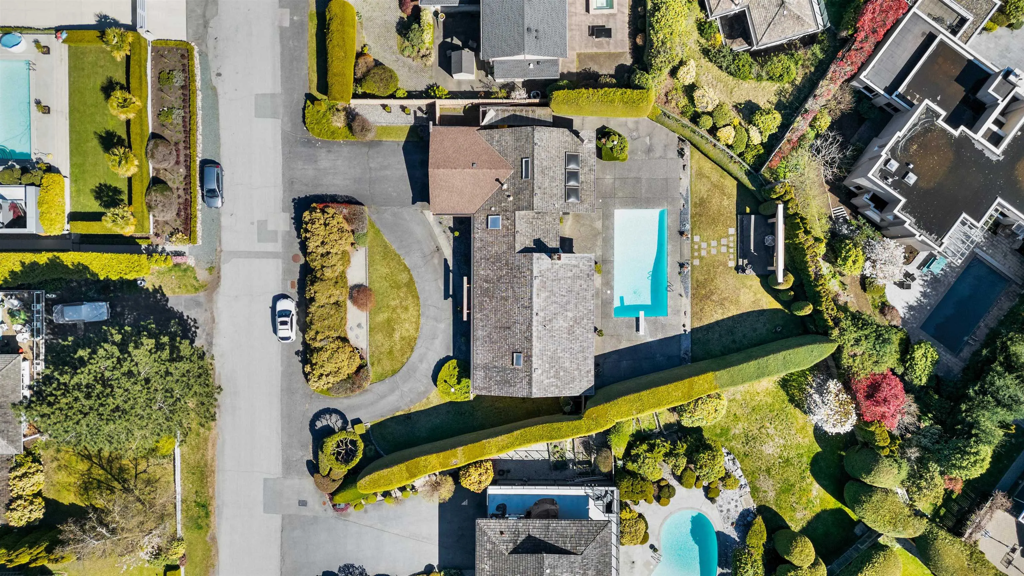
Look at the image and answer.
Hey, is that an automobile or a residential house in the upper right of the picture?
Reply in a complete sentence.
The one visible in the upper right of the picture is a residential house.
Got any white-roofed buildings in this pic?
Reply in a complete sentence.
Yes, the frame does contain a white-roofed building.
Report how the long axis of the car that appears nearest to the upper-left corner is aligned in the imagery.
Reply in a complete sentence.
The car that appears nearest to the upper-left corner has been laid out up and down relative to the frame.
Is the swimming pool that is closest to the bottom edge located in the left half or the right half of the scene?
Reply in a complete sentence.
The swimming pool that is closest to the bottom edge is on the right side of the image.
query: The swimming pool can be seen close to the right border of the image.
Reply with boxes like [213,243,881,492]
[914,253,1014,362]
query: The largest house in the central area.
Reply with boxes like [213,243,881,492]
[428,121,596,398]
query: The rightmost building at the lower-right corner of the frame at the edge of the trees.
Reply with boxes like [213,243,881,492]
[984,460,1024,540]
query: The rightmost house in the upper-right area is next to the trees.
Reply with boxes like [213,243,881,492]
[835,0,1024,253]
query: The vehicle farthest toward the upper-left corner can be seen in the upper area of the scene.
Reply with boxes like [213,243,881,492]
[201,162,225,209]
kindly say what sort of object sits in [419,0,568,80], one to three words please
house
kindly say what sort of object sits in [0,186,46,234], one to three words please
building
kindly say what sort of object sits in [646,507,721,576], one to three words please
swimming pool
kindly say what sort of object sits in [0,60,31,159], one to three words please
swimming pool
